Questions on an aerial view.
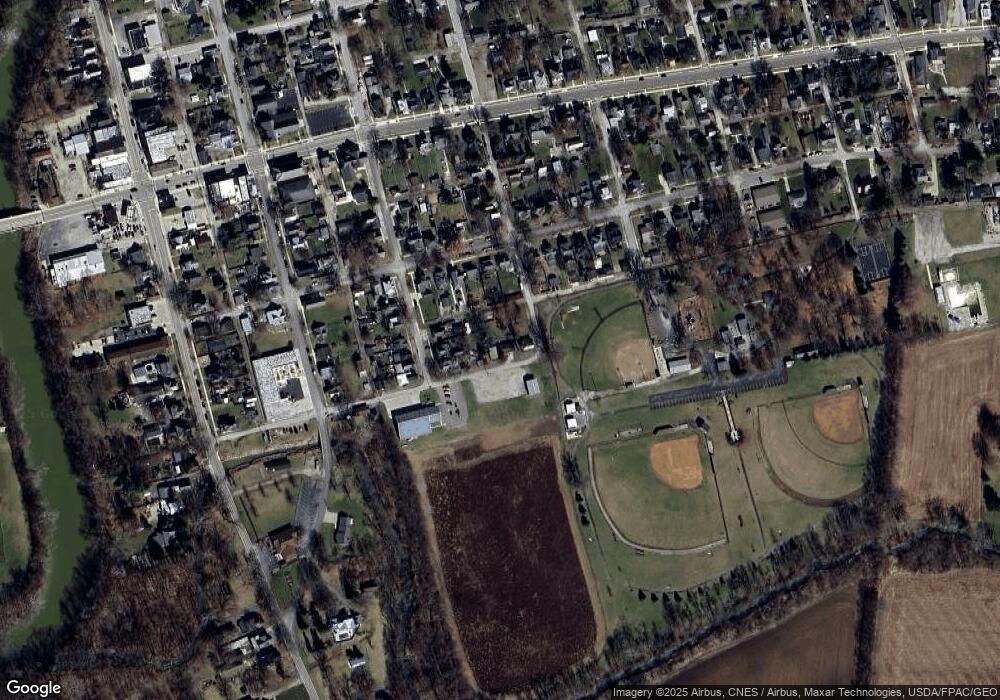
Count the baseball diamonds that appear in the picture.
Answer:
3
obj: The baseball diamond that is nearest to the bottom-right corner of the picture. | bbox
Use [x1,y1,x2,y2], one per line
[756,384,873,507]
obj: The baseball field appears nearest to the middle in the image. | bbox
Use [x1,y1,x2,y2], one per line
[549,280,661,398]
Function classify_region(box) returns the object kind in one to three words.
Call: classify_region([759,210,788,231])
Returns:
house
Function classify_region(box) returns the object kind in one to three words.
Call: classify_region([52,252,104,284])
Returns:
building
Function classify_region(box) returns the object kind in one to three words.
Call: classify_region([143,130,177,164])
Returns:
building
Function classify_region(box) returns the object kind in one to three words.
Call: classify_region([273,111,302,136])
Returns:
house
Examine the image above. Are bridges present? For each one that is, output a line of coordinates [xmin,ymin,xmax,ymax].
[0,209,44,232]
